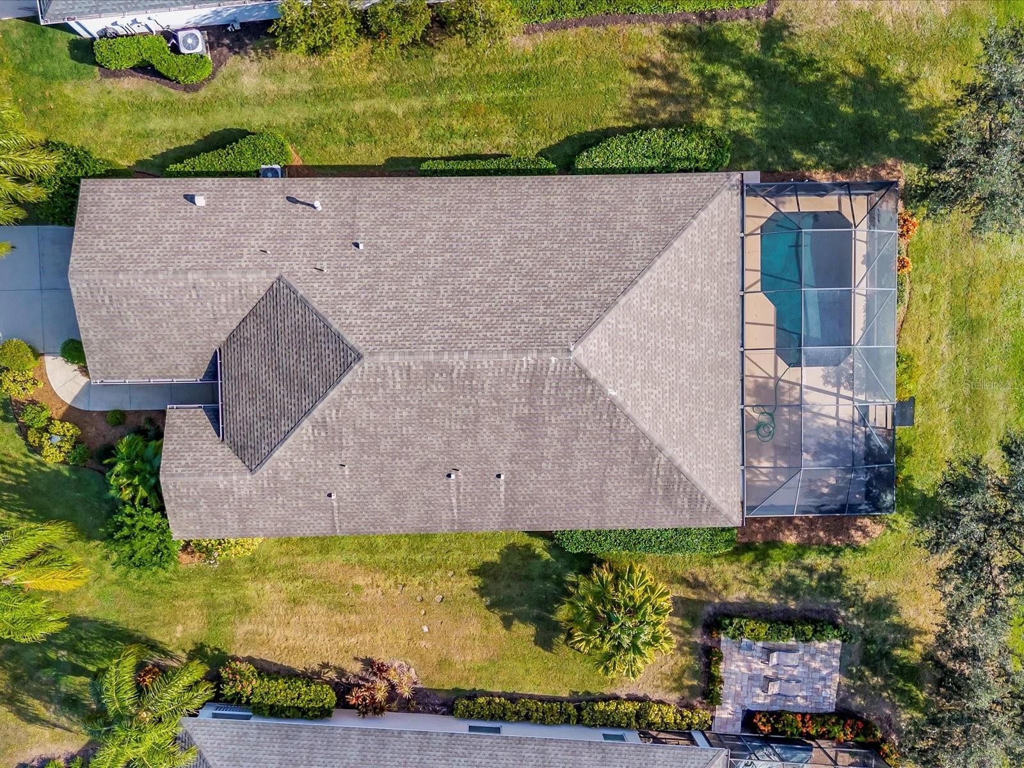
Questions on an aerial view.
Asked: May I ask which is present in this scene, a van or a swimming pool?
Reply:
swimming pool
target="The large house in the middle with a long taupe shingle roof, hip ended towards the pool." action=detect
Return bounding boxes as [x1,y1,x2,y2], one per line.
[68,169,749,539]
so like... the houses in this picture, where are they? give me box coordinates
[30,0,461,38]
[176,706,733,768]
[68,169,749,539]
